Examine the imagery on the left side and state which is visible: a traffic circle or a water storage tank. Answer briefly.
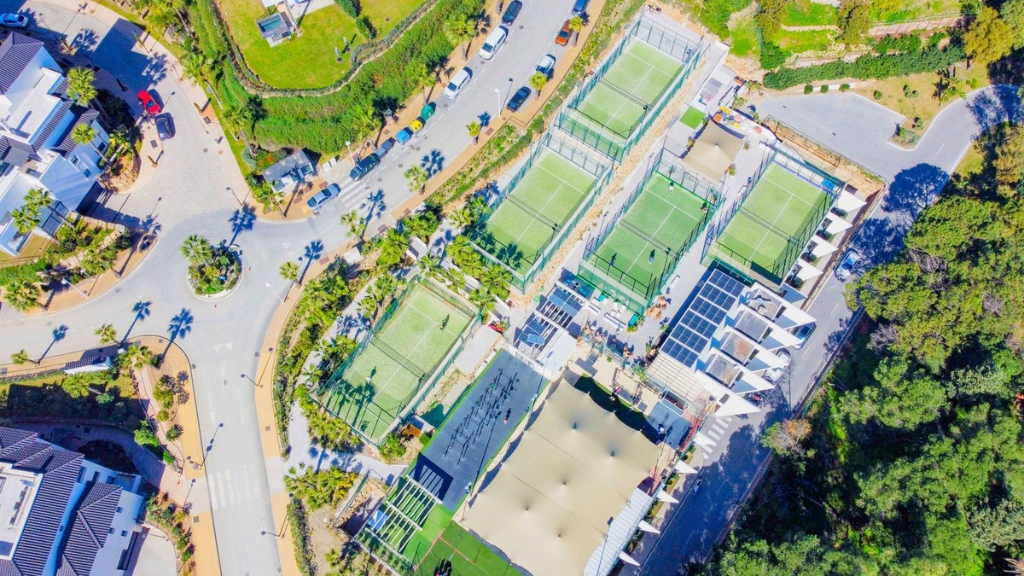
traffic circle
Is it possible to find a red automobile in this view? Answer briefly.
Yes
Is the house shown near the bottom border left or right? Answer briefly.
left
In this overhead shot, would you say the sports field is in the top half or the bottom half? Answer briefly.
bottom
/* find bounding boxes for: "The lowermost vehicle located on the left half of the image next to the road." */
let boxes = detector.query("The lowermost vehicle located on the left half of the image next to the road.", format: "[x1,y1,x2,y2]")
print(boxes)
[307,185,342,209]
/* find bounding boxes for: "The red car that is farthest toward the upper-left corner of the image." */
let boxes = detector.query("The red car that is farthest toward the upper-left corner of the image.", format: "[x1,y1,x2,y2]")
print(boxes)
[137,91,164,113]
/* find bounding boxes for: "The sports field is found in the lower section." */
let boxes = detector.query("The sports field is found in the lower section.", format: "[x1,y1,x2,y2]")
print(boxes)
[415,519,531,576]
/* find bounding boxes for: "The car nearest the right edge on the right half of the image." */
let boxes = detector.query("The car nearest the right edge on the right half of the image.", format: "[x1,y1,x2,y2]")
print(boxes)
[835,250,863,282]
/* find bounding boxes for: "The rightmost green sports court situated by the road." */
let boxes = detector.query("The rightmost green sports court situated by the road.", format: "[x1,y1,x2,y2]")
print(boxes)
[701,144,851,298]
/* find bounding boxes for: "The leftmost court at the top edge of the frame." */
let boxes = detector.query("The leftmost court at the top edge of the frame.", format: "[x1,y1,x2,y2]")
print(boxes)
[563,18,700,163]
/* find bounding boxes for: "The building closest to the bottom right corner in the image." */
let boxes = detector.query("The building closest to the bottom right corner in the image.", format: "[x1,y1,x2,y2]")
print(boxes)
[656,268,815,418]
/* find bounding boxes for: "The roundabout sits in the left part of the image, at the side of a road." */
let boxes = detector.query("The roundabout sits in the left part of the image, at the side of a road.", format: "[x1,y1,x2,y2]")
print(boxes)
[185,247,243,299]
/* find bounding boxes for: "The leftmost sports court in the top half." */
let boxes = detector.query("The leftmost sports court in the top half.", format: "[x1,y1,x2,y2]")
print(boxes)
[462,131,611,294]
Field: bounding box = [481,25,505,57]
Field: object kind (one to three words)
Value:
vehicle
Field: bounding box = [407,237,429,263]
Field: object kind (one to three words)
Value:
building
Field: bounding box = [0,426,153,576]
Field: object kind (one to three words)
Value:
house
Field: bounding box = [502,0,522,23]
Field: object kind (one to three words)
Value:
car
